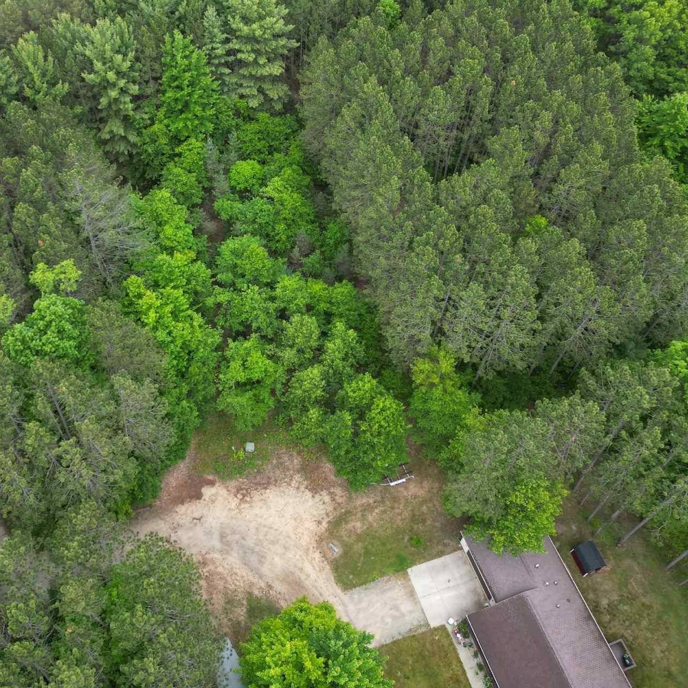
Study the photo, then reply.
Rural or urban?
rural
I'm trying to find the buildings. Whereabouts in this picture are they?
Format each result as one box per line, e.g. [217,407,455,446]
[459,514,633,688]
[567,541,607,579]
